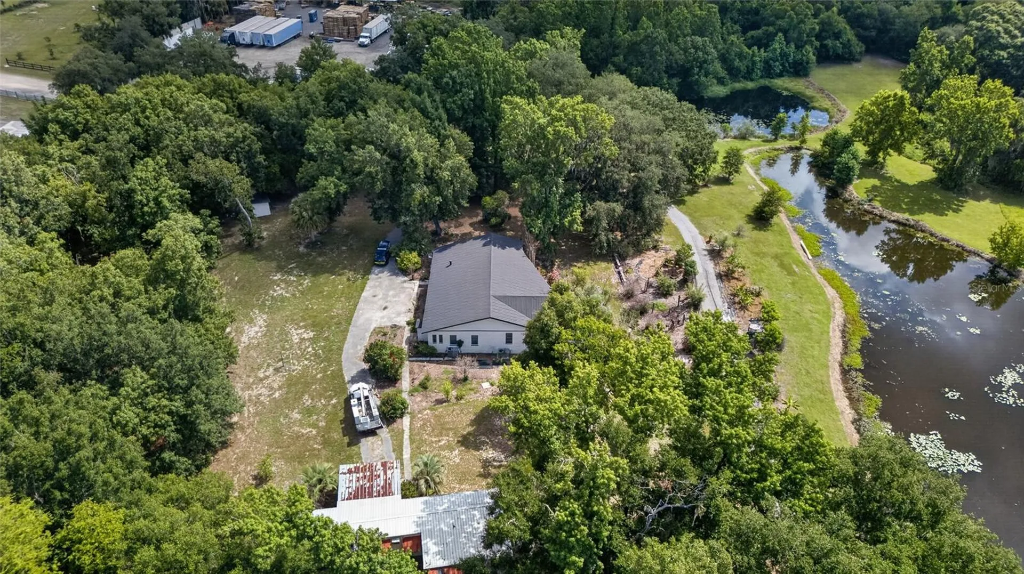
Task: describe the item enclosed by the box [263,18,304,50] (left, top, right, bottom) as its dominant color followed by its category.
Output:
blue trailer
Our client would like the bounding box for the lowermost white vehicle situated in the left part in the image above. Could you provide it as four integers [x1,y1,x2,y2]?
[354,377,387,435]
